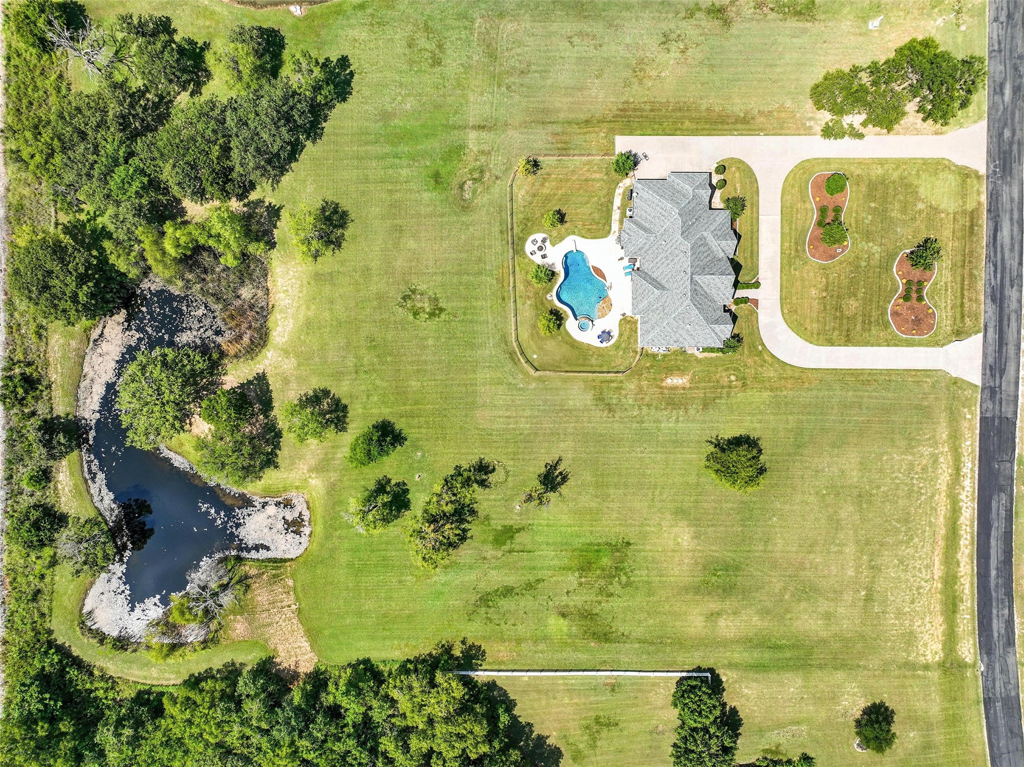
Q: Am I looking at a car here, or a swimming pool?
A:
swimming pool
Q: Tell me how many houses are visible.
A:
1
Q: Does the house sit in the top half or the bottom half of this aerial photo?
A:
top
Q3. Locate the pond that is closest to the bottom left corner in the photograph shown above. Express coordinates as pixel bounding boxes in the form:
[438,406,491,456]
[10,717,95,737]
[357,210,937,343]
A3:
[77,280,313,643]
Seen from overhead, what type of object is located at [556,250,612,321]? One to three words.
swimming pool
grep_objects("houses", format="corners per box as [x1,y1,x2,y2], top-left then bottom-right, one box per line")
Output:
[620,172,738,348]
